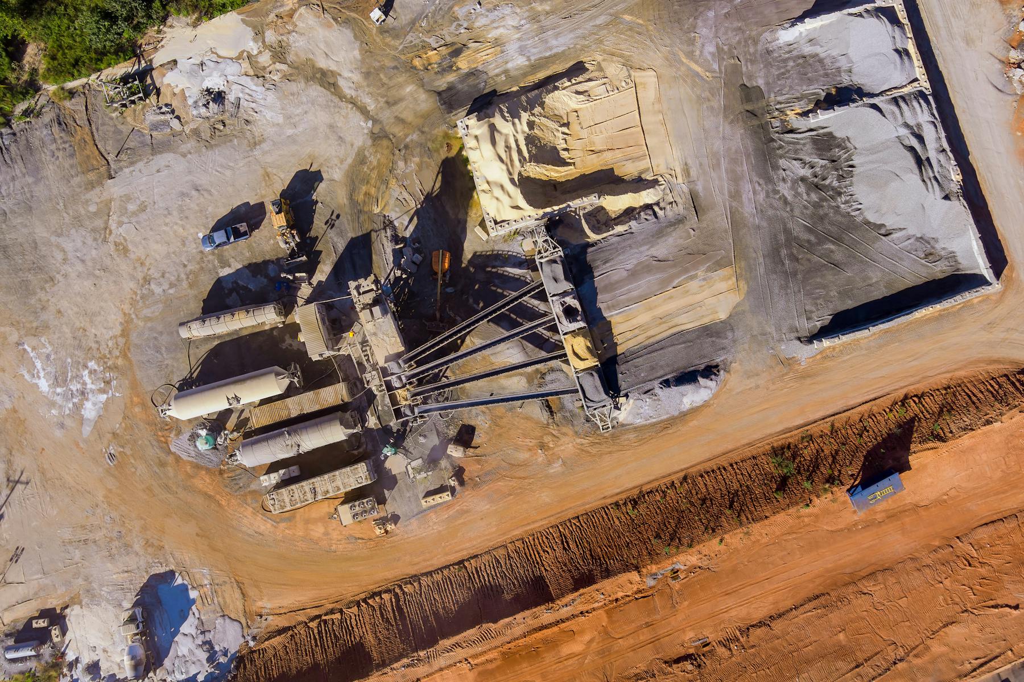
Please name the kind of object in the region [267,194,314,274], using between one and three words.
work vehicle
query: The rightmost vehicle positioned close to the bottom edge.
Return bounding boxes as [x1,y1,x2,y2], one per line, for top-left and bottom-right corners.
[117,598,154,682]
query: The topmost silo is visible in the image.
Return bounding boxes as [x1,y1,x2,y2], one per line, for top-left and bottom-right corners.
[159,362,307,420]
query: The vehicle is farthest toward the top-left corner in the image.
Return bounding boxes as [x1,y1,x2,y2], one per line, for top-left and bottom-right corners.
[200,225,255,255]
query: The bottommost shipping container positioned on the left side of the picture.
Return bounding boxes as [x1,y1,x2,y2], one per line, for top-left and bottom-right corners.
[249,380,353,429]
